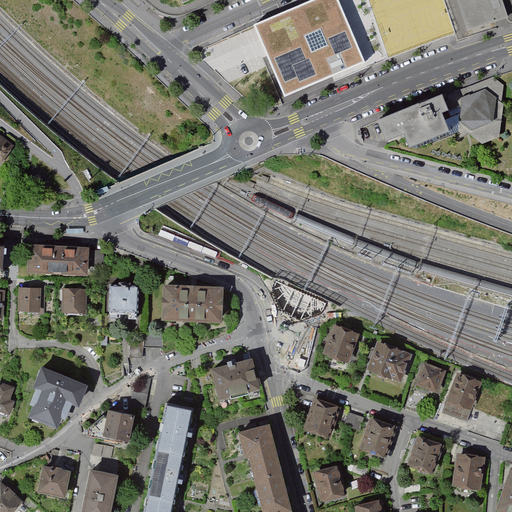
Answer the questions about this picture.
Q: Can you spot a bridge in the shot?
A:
Yes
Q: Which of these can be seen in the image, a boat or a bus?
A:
bus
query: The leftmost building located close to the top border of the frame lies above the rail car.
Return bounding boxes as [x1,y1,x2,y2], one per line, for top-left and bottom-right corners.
[256,0,372,96]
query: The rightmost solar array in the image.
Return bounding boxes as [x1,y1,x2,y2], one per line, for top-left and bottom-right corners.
[329,32,352,53]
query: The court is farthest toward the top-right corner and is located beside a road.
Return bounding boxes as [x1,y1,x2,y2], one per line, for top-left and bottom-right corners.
[370,0,454,58]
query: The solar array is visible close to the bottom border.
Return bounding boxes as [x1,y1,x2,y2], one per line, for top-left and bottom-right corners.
[150,453,168,498]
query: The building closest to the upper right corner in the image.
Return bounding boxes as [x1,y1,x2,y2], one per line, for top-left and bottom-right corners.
[448,0,508,36]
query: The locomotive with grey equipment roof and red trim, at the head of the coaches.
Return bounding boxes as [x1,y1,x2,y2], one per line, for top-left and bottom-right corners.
[251,194,294,218]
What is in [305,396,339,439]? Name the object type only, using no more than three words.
house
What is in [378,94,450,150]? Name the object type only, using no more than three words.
building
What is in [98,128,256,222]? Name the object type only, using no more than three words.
bridge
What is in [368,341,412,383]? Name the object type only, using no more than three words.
house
